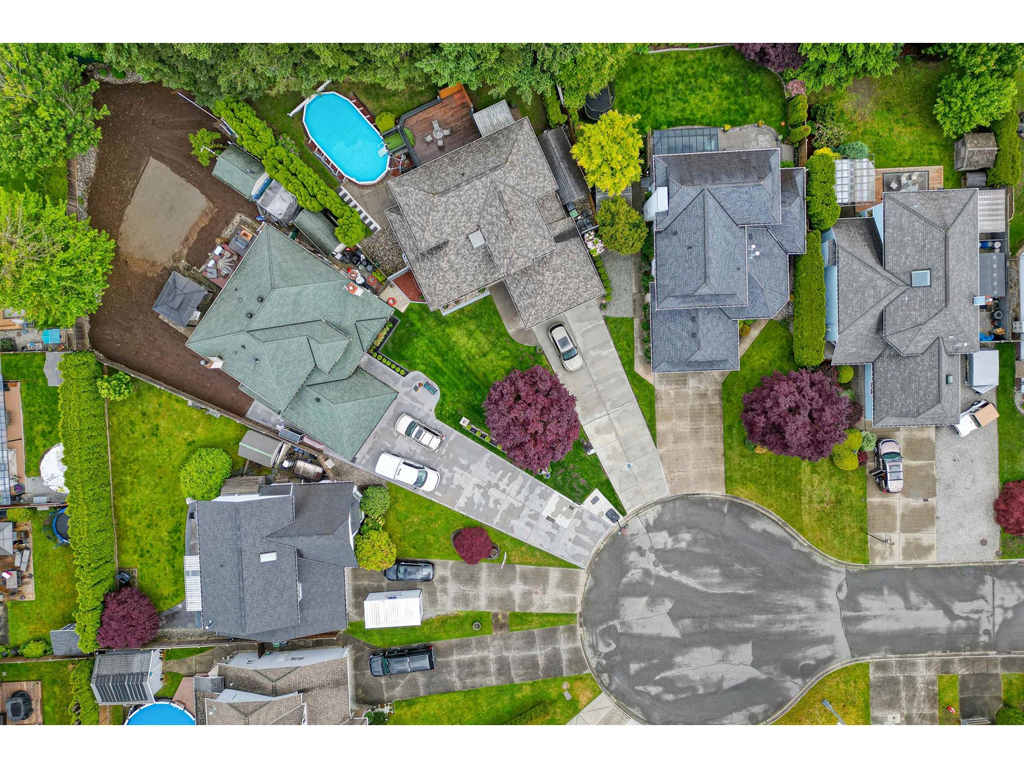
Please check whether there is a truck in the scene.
Yes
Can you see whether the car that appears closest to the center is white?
Yes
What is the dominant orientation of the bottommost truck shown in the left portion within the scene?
horizontally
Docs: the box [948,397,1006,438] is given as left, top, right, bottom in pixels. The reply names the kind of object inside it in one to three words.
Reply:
truck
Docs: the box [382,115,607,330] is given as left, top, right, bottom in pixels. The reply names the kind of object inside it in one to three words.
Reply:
house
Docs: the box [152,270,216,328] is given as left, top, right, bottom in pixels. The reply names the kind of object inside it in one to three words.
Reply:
gazebo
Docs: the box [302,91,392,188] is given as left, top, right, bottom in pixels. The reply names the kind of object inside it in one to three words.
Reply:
swimming pool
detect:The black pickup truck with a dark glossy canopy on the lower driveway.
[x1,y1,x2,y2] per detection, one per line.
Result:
[370,644,437,676]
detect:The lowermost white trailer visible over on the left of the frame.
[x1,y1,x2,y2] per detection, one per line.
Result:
[363,590,441,629]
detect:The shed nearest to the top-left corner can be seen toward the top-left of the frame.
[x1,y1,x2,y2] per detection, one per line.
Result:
[210,141,271,203]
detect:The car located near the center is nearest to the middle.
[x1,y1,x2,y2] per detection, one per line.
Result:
[546,320,581,375]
